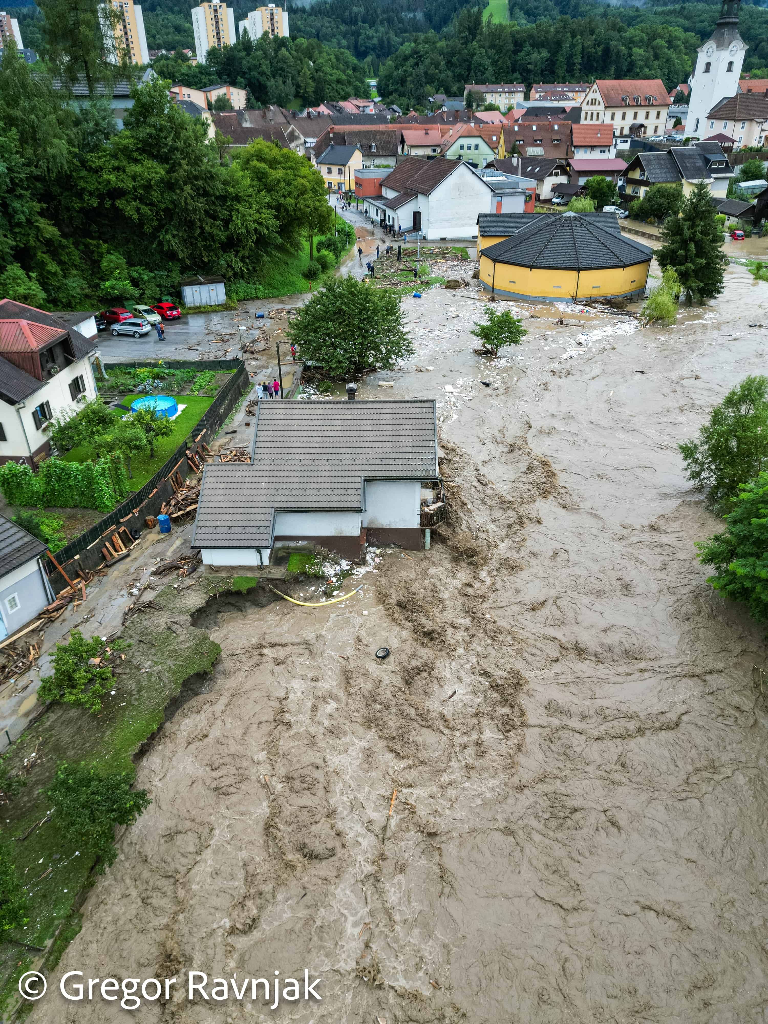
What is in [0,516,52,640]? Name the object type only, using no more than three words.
building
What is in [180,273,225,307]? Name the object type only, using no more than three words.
shed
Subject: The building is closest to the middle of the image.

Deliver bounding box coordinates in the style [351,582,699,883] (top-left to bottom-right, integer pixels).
[189,377,448,568]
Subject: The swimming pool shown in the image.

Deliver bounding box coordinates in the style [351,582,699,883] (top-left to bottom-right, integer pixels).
[127,391,180,422]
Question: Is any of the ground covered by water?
Yes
